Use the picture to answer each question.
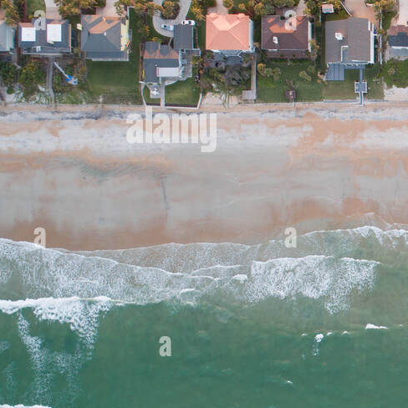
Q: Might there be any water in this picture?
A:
Yes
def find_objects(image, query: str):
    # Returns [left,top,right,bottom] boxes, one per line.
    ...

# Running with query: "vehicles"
[182,19,194,24]
[159,21,172,29]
